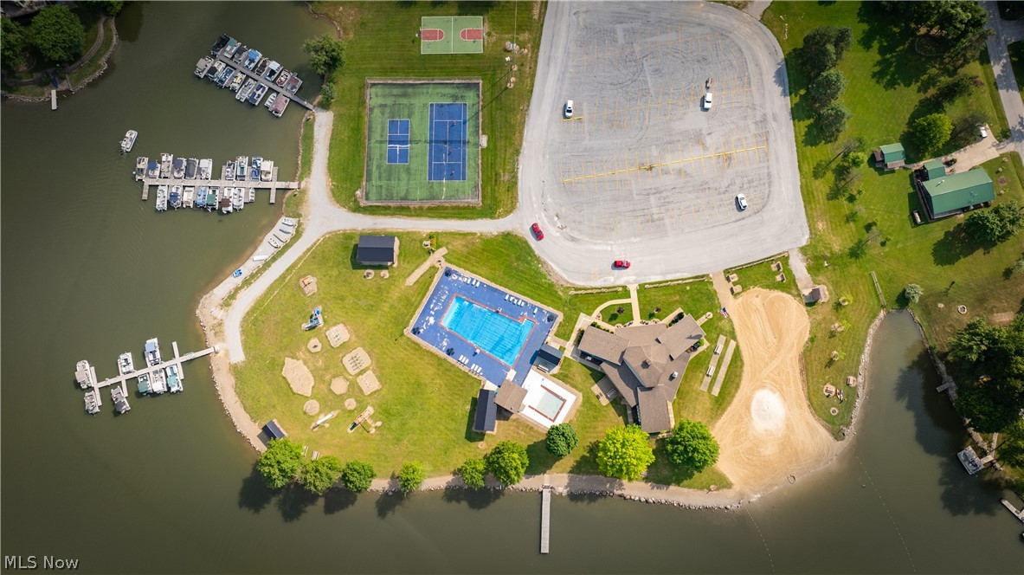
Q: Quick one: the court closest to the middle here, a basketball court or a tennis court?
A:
tennis court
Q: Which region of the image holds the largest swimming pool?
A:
center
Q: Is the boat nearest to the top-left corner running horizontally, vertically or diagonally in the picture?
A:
diagonally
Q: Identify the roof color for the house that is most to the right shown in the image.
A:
green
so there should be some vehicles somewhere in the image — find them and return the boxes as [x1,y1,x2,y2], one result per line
[565,101,573,118]
[977,126,989,141]
[614,260,630,268]
[736,193,748,210]
[531,224,544,240]
[704,92,713,109]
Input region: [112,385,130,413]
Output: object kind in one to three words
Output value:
boat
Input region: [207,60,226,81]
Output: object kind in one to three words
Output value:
boat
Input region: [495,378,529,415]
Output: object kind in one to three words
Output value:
building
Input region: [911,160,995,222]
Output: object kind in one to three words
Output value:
house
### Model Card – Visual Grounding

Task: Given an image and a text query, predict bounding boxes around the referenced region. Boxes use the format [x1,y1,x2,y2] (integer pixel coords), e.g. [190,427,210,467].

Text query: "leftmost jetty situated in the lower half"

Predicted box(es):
[89,342,214,405]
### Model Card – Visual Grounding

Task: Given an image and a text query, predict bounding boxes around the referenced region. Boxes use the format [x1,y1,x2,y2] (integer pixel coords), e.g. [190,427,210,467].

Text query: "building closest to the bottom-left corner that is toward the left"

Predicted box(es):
[262,420,288,443]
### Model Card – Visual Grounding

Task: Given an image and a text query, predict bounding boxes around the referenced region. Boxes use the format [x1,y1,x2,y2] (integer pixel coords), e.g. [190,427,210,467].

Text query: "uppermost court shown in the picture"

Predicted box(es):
[418,16,486,54]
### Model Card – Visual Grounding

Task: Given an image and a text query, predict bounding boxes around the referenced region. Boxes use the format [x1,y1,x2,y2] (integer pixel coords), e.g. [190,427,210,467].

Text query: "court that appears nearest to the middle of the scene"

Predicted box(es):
[361,75,488,205]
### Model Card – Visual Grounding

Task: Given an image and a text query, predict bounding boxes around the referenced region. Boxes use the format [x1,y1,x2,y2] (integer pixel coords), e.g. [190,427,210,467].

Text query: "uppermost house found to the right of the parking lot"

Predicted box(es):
[874,143,907,171]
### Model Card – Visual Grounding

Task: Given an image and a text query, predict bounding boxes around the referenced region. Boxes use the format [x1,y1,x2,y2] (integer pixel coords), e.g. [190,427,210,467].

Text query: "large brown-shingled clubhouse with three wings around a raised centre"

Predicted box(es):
[578,314,705,431]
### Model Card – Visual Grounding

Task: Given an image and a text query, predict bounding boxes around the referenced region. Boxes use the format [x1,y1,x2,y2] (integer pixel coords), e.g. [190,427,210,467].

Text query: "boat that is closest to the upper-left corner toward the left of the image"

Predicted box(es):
[117,130,140,153]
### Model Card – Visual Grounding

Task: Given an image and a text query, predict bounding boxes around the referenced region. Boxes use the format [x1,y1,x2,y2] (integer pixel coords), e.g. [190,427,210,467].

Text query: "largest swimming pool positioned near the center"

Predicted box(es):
[407,262,563,391]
